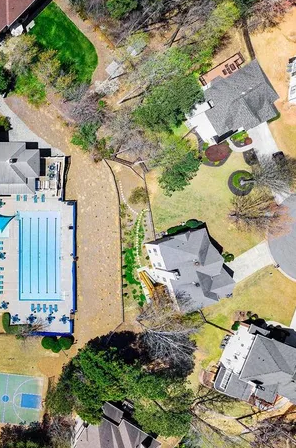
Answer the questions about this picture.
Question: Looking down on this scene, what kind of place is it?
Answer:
residential area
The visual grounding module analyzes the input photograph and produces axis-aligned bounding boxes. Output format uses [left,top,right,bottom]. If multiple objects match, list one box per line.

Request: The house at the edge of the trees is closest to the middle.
[137,227,235,313]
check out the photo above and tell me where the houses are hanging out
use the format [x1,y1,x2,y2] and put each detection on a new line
[66,415,161,448]
[137,227,235,313]
[287,65,296,109]
[205,322,296,414]
[0,0,42,37]
[187,52,279,141]
[0,142,39,195]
